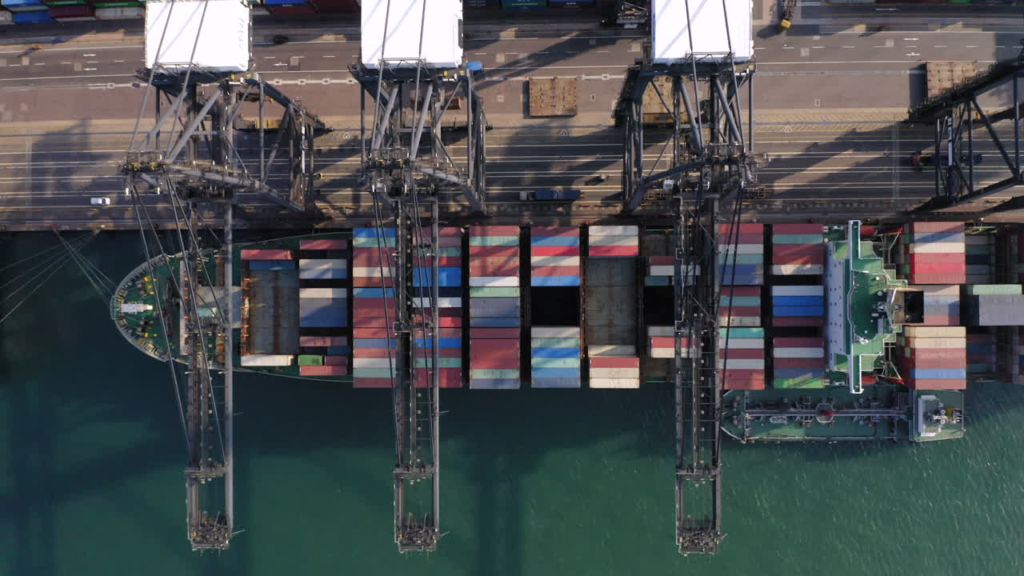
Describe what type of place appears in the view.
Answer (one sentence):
What you see here is a port.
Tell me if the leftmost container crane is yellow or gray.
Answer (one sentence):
In this view, the leftmost container crane is gray.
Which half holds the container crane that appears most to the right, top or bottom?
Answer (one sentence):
The top half of the photo is where the container crane that appears most to the right is.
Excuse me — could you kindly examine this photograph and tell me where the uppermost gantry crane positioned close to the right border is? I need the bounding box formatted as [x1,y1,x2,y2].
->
[896,38,1024,216]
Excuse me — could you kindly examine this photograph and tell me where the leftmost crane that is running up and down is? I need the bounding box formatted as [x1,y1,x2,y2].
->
[117,0,348,562]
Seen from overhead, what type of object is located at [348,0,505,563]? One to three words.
container crane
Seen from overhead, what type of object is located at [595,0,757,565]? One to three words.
container crane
